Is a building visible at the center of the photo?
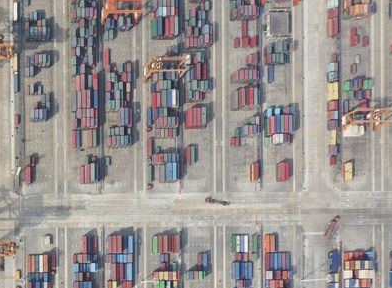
No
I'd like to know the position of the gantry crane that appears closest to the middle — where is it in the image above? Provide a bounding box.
[143,55,191,84]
